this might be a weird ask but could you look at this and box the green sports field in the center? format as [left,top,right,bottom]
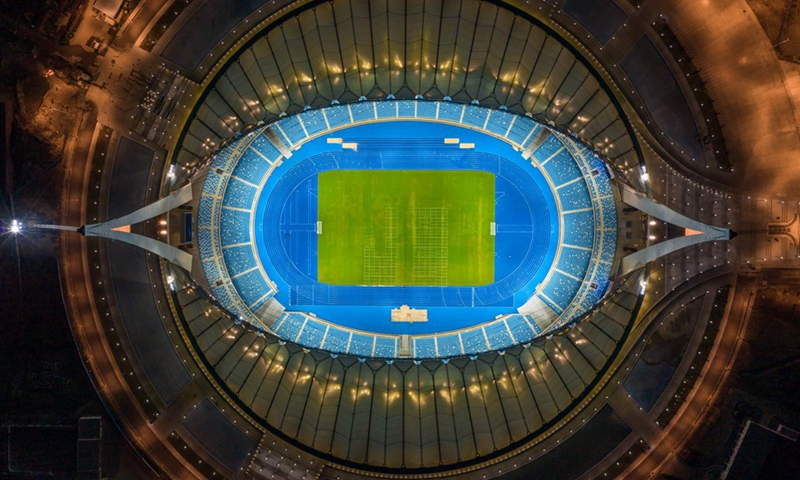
[318,170,495,287]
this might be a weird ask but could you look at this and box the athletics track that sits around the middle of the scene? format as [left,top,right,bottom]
[255,122,559,335]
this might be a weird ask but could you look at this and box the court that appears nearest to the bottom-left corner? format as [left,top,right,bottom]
[8,425,78,475]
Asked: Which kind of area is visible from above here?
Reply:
sports ground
